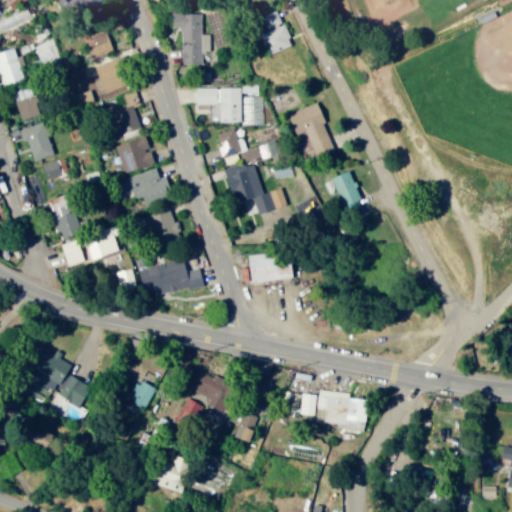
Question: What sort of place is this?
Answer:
residential area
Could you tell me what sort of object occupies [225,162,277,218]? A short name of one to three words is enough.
house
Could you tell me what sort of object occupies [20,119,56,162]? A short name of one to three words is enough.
house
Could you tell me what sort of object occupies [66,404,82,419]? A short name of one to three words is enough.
swimming pool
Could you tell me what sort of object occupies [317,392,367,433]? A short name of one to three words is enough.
building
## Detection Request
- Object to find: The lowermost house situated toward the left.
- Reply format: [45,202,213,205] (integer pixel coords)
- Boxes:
[158,456,184,494]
